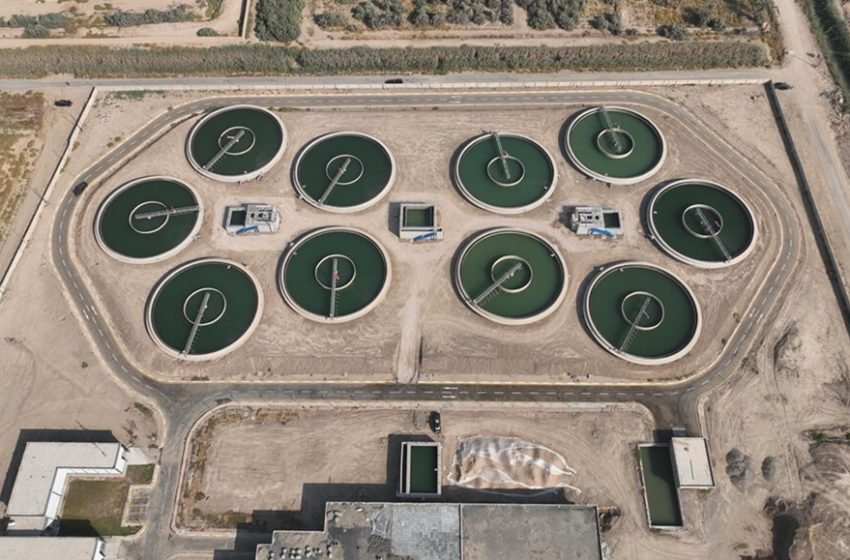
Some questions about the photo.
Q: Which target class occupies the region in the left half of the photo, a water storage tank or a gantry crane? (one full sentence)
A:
The feature located in the left half of the photo is a water storage tank.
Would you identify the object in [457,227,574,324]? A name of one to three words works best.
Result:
water tank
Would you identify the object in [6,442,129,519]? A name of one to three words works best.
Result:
building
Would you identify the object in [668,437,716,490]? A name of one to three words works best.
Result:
building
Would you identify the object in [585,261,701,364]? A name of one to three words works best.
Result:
water tank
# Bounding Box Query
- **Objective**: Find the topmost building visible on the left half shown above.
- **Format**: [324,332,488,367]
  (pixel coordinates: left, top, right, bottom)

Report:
[226,203,281,235]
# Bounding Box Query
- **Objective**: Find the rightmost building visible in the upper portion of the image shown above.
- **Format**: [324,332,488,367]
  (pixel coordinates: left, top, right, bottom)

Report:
[570,205,623,237]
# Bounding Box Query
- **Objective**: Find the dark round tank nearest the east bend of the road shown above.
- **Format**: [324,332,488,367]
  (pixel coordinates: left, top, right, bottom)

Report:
[647,179,756,268]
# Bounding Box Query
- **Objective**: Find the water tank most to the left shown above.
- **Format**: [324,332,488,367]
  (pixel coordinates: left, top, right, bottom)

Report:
[95,175,203,263]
